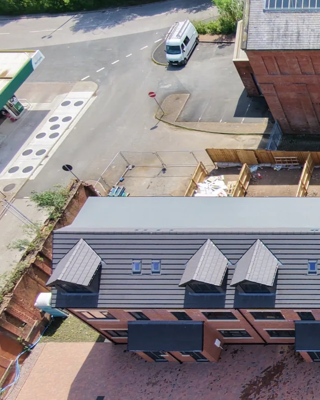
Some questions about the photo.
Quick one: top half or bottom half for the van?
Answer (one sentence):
The van sits in the top half of the picture.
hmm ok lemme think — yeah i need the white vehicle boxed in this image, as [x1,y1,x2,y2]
[166,18,199,60]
